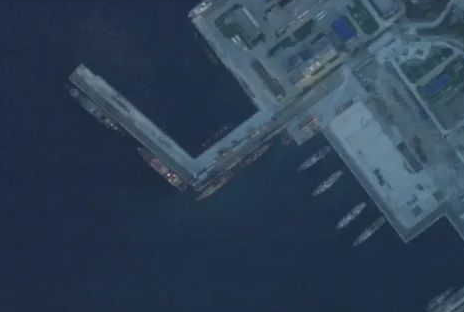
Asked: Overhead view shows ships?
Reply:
Yes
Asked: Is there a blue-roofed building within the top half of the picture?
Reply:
Yes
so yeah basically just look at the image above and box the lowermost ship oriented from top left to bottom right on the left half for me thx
[138,147,189,193]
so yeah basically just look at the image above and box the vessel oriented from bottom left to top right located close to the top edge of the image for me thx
[188,0,214,15]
